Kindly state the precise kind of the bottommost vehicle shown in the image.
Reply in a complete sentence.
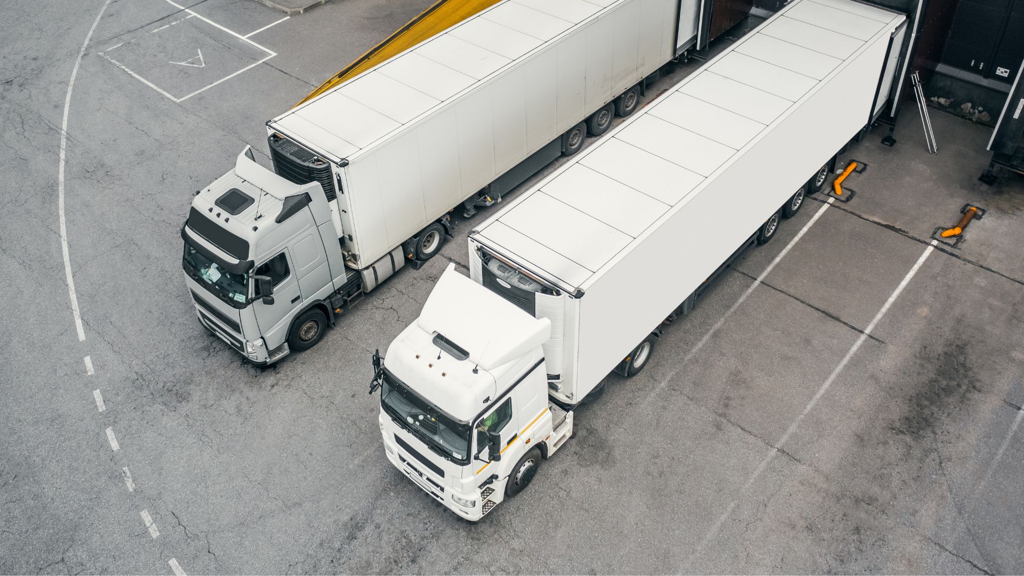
The bottommost vehicle appears to be a truck.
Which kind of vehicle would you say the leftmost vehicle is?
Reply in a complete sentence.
From above, the leftmost vehicle can be identified as a truck.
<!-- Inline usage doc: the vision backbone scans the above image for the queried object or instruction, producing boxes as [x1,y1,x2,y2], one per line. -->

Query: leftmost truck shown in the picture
[177,136,457,369]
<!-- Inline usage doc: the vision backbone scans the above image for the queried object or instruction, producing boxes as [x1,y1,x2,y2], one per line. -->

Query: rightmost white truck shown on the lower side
[360,264,657,519]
